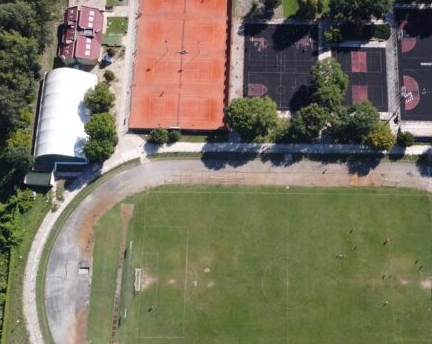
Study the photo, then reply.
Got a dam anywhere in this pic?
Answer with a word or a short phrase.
No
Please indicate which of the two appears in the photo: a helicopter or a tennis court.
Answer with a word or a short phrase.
tennis court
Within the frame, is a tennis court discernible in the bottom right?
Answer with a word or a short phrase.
No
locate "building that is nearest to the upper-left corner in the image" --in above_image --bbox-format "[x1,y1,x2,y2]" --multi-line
[60,8,106,63]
